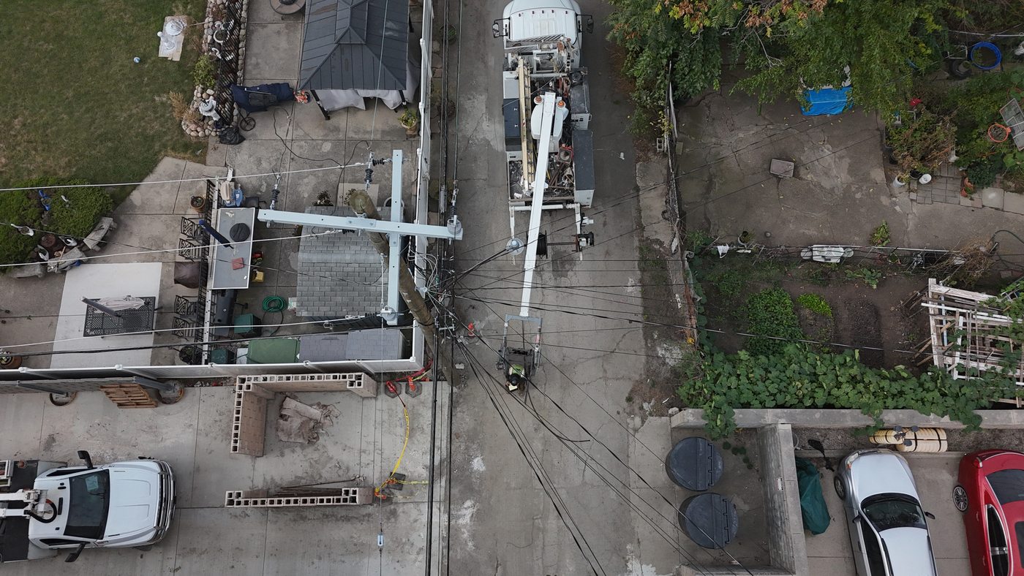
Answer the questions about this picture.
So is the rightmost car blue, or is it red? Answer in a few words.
red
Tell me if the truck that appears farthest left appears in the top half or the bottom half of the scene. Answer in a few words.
bottom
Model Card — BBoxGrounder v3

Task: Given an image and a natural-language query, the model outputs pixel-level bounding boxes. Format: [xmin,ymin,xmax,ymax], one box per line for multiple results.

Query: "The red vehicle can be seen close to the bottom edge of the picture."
[954,448,1024,576]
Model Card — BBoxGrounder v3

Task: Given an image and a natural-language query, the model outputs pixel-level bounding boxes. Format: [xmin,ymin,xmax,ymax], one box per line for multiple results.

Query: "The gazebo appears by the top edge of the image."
[296,0,422,132]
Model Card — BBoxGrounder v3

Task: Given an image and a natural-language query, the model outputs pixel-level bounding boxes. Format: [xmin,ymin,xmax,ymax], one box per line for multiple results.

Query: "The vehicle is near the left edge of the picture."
[0,447,180,573]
